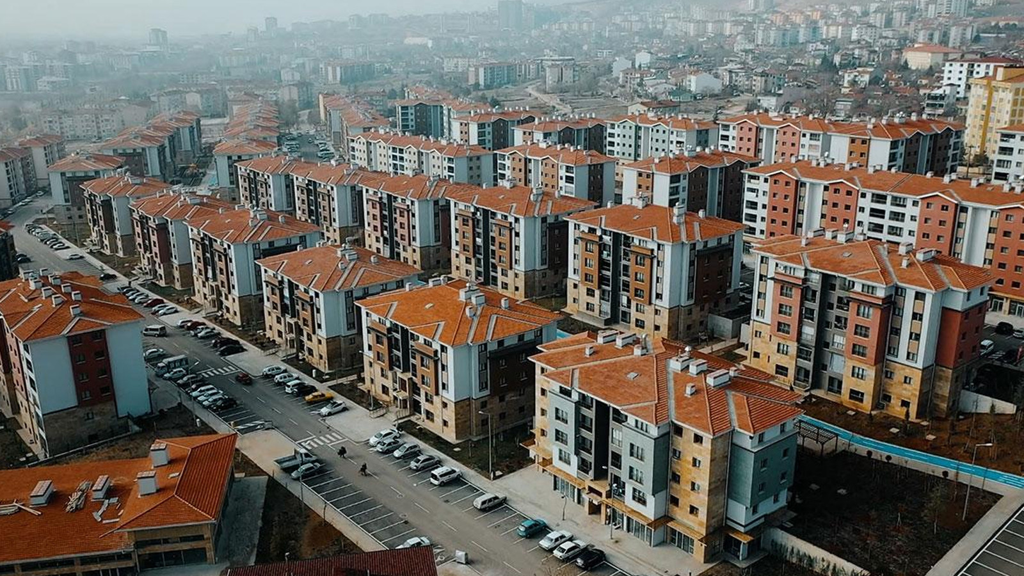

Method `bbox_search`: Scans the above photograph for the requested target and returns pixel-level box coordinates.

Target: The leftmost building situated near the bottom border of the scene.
[0,433,232,576]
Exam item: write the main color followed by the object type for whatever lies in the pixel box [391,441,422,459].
gray car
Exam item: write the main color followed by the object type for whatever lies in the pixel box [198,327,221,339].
gray vehicle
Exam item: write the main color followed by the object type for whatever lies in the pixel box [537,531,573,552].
white car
